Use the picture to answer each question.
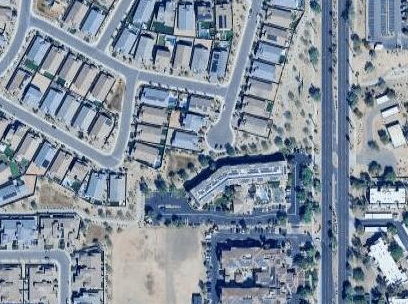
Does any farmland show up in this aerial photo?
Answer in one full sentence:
No, there is no farmland in the image.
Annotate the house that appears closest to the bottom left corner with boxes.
[0,265,23,302]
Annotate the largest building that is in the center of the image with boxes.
[188,159,289,204]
